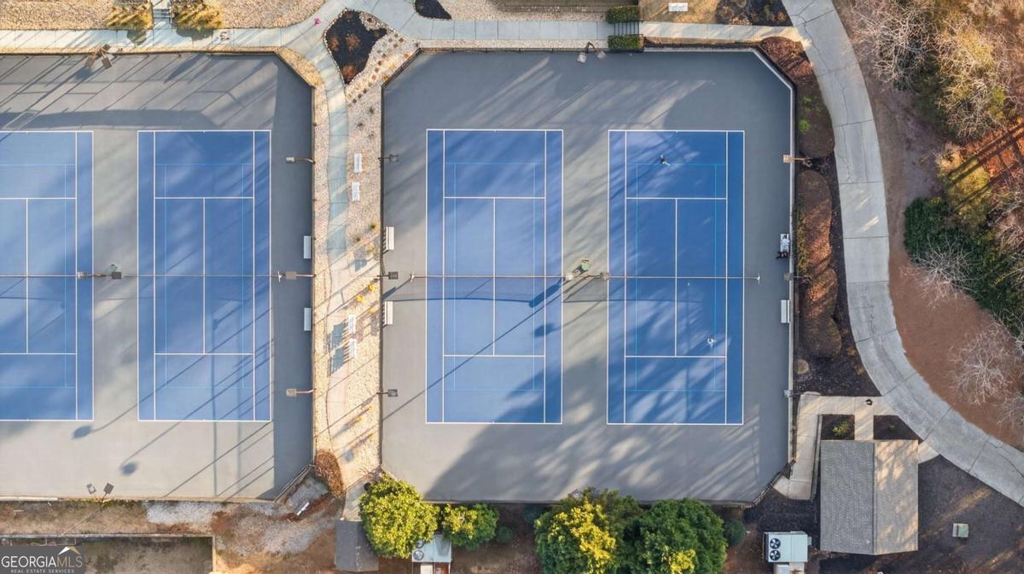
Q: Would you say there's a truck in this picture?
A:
No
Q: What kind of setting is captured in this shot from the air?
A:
sports ground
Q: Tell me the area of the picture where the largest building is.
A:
bottom right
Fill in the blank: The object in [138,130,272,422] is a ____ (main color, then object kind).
blue tennis court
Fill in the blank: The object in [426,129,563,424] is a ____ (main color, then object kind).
blue tennis court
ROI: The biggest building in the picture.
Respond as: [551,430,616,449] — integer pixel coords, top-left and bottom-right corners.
[820,440,918,555]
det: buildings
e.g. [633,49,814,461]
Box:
[335,520,378,572]
[820,440,918,555]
